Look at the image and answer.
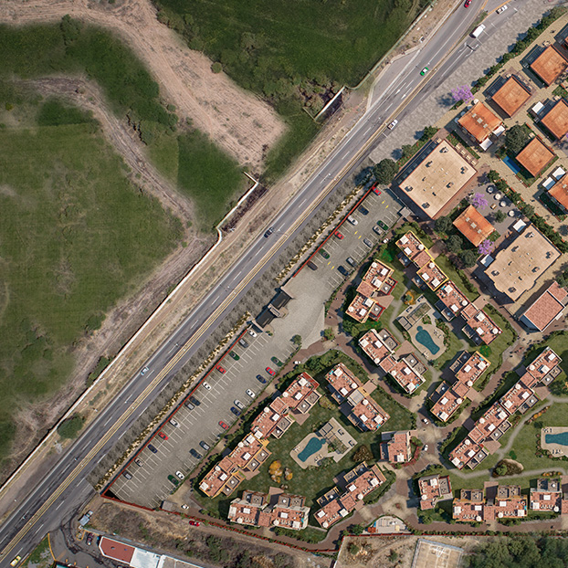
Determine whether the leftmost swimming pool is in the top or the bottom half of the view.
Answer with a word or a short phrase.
bottom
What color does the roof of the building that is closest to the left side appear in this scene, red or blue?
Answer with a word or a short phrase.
red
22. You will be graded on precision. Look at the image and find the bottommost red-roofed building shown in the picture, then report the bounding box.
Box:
[99,533,140,564]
